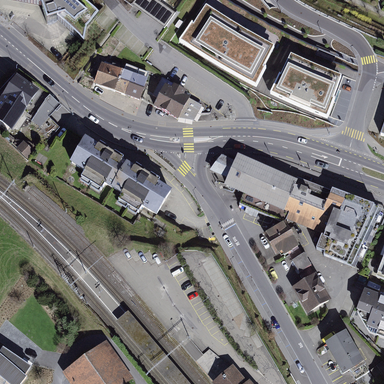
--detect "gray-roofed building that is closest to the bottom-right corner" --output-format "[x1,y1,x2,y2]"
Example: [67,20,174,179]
[323,329,370,382]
